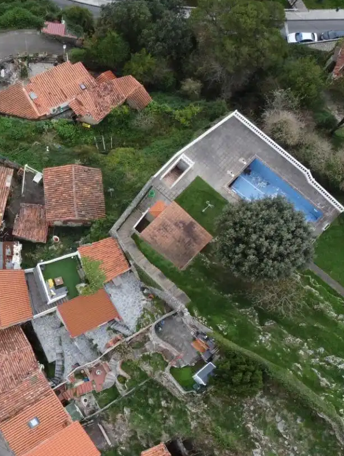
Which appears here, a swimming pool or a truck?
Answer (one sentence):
I can see a swimming pool in this picture.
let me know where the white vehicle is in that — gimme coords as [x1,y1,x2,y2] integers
[285,31,318,43]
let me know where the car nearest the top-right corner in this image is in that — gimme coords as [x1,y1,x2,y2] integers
[319,27,344,42]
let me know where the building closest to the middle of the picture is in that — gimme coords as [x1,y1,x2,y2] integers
[139,201,213,271]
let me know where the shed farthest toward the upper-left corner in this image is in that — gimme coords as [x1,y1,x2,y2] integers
[42,21,65,43]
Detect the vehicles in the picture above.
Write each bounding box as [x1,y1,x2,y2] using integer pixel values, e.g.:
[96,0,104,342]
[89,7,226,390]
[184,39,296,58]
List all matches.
[285,31,318,43]
[319,27,344,42]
